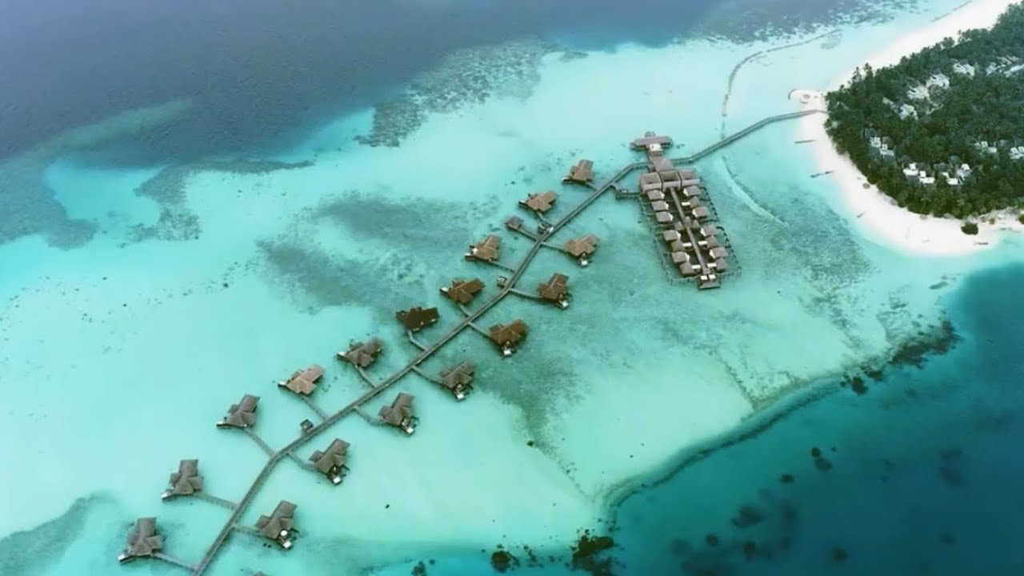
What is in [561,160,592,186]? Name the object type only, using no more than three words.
house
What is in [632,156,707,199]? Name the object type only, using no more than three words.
building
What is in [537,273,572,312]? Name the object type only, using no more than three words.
house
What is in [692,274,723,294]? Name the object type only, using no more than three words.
building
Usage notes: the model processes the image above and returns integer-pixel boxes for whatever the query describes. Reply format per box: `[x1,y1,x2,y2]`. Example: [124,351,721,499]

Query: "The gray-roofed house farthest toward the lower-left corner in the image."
[120,514,166,570]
